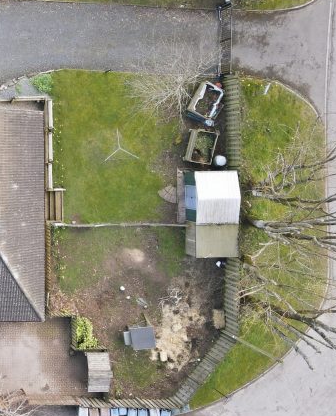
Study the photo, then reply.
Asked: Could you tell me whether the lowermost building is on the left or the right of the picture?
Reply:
left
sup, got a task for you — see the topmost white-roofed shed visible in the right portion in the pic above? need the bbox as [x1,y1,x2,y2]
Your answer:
[184,170,243,223]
